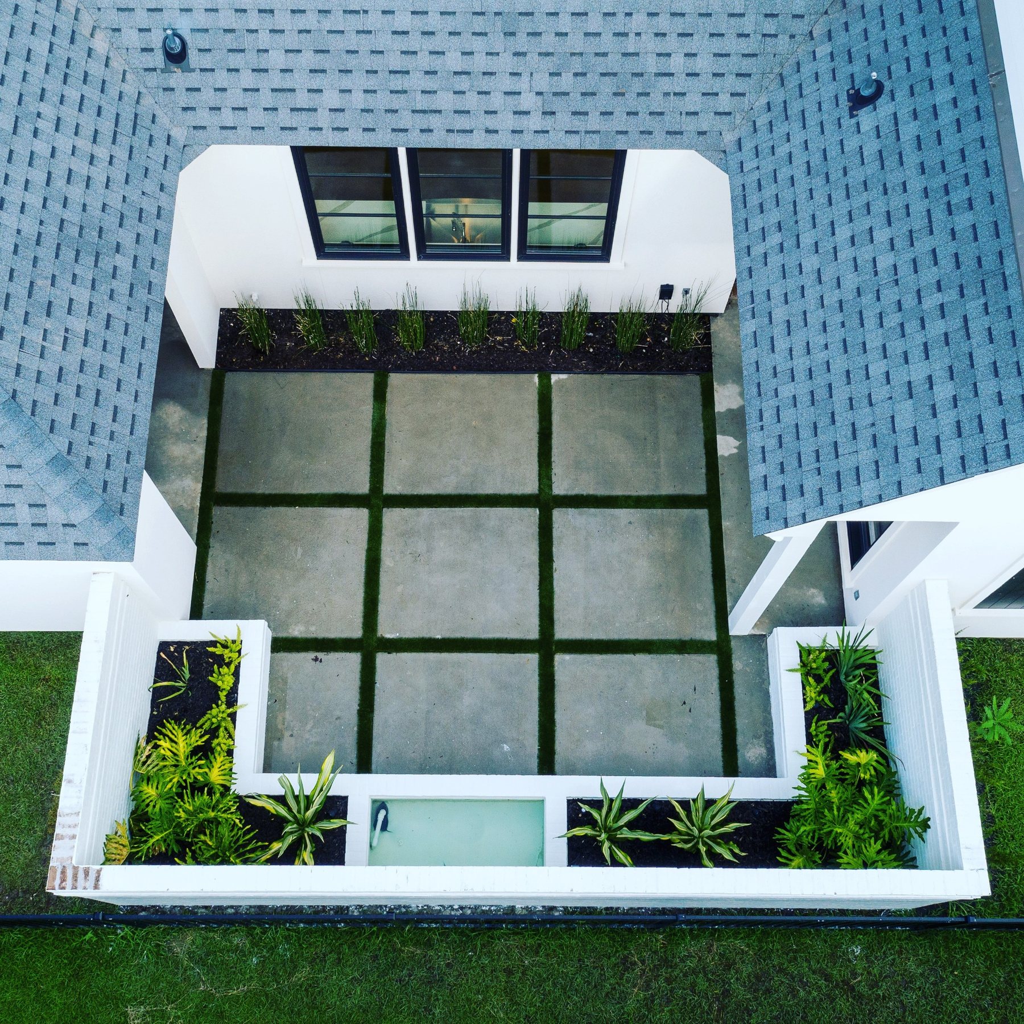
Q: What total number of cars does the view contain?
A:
zero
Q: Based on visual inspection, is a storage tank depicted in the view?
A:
No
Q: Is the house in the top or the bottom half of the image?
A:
top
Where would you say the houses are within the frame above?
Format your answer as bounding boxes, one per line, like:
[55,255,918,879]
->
[0,0,1024,637]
